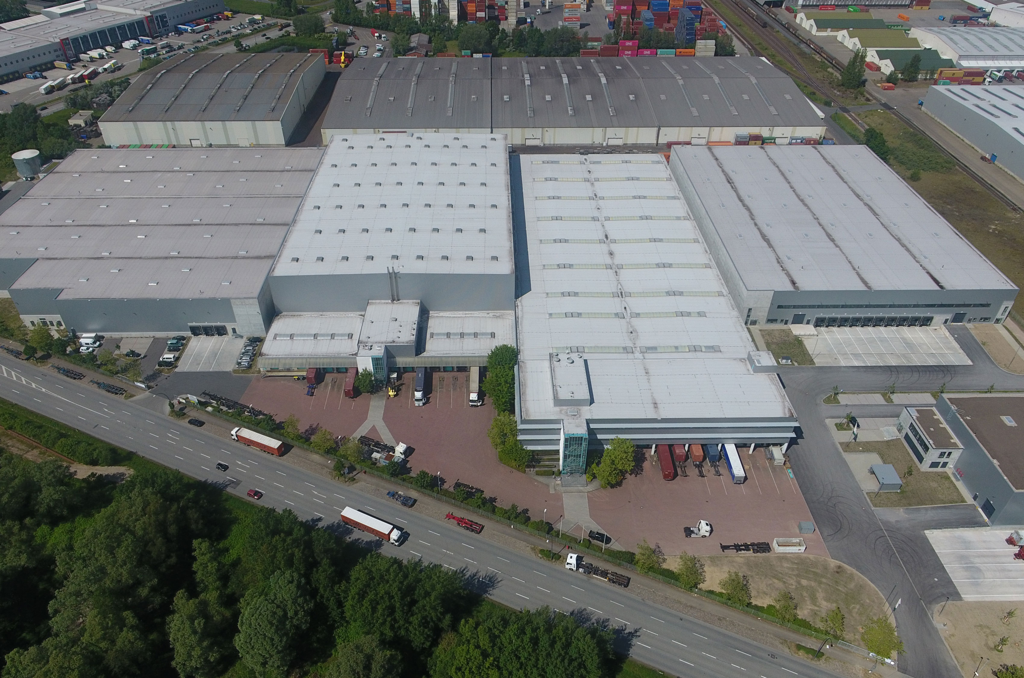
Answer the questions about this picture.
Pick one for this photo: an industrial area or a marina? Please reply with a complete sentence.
This looks like an industrial area.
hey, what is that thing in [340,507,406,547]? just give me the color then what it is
white truck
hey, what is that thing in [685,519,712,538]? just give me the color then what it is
white vehicle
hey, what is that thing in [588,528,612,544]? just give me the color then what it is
black vehicle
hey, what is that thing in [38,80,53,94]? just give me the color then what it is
white vehicle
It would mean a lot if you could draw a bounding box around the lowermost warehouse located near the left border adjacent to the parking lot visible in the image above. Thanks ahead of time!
[0,149,325,337]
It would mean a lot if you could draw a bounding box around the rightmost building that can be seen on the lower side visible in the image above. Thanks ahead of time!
[934,391,1024,524]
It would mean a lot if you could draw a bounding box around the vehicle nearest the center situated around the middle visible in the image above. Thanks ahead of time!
[469,366,482,399]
